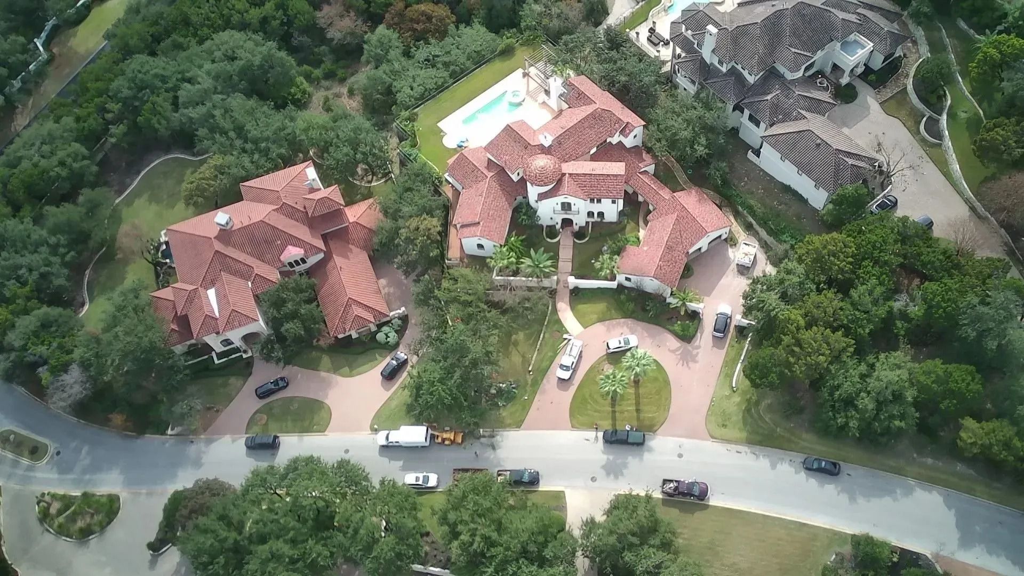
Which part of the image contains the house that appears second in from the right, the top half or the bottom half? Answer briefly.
top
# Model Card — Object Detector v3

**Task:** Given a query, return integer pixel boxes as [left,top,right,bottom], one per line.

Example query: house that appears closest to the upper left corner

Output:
[149,160,391,354]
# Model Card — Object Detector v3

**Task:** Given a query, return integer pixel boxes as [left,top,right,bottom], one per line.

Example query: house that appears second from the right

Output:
[448,74,733,297]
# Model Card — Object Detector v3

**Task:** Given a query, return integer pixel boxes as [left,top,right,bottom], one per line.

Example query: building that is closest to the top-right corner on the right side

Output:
[670,0,911,212]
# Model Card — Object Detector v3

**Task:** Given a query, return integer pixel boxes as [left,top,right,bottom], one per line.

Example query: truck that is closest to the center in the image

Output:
[555,335,585,381]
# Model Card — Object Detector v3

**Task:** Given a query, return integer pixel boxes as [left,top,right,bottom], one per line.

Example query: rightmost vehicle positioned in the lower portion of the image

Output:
[802,457,841,477]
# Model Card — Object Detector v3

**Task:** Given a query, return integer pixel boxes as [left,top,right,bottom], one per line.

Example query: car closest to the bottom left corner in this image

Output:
[243,433,282,451]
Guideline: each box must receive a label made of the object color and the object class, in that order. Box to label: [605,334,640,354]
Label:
white car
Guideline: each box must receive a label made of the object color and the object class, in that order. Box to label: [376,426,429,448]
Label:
white truck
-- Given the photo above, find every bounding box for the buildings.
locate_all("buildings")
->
[149,160,391,354]
[670,0,911,212]
[448,74,733,297]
